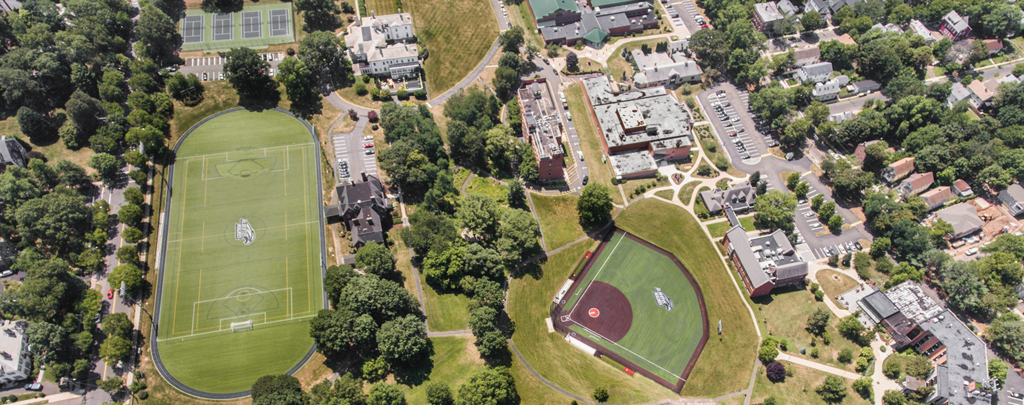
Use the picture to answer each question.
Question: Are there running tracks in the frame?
Yes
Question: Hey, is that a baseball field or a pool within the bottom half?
baseball field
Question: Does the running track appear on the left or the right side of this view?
left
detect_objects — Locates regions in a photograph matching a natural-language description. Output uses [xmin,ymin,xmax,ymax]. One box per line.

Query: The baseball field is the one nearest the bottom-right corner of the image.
[552,227,710,393]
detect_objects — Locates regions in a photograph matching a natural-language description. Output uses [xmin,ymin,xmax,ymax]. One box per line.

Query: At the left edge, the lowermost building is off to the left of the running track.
[0,318,41,385]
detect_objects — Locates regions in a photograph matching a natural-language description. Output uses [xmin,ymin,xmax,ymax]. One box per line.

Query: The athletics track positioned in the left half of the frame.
[149,105,327,399]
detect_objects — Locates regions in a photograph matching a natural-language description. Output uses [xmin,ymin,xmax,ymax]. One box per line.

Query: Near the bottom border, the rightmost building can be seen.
[856,284,1006,405]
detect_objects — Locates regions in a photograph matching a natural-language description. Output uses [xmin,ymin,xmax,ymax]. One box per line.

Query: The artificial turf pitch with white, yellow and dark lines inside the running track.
[157,109,319,392]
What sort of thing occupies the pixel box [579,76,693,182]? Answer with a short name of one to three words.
building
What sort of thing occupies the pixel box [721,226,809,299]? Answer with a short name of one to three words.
building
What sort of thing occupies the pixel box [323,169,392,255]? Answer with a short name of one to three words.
house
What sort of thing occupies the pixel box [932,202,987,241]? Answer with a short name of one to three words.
house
